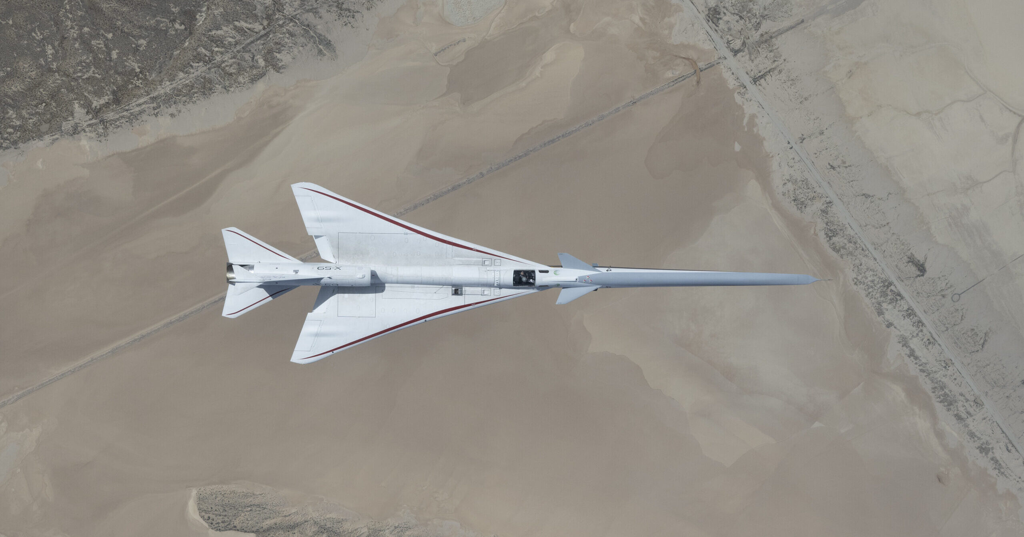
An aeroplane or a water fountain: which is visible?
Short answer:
aeroplane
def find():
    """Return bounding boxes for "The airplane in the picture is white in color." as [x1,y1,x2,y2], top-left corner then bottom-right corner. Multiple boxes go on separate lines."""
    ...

[222,181,820,364]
